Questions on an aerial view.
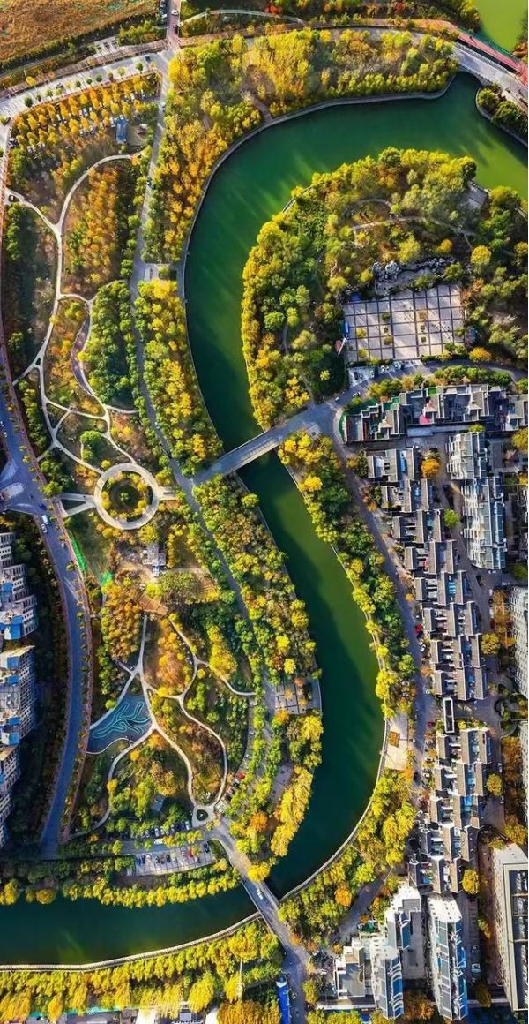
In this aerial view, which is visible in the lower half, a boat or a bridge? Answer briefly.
bridge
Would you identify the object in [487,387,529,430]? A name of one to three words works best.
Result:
house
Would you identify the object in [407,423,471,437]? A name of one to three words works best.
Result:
shed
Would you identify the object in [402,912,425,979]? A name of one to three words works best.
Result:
building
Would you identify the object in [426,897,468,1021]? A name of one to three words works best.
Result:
building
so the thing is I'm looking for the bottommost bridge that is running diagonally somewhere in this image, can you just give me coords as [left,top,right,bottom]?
[232,858,287,938]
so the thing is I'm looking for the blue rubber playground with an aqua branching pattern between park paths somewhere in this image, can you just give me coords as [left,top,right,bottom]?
[86,694,153,752]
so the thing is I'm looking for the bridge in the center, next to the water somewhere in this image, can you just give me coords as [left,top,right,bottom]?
[188,416,311,491]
